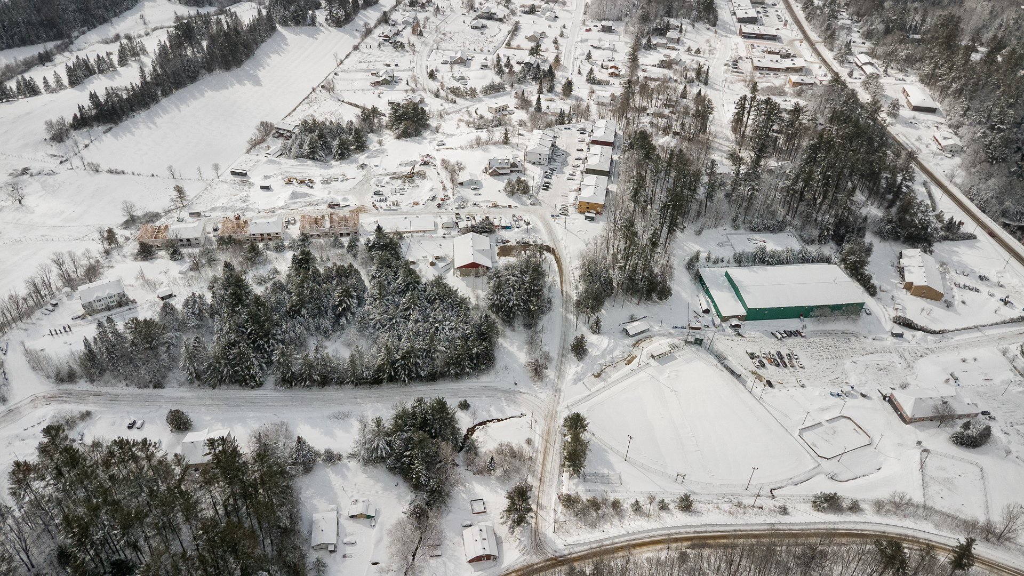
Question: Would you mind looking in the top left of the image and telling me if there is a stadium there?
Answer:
No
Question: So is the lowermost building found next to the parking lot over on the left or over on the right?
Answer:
right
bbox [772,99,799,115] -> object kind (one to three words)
house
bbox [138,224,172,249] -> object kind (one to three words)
house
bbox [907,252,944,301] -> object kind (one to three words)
building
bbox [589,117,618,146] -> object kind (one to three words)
building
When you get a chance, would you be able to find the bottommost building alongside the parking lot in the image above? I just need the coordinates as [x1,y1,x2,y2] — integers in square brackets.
[888,387,979,423]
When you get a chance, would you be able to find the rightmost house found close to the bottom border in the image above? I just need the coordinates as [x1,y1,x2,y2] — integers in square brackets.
[464,520,498,561]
